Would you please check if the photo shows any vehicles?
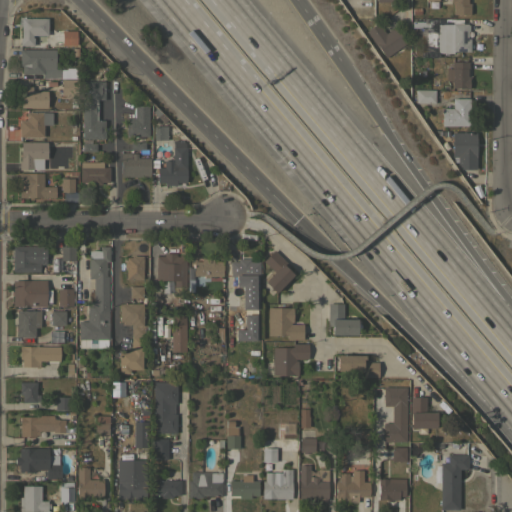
Yes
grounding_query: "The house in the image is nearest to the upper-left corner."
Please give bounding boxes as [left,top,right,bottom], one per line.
[22,18,50,46]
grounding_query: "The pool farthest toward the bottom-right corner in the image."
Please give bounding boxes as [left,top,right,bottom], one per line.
[420,454,434,479]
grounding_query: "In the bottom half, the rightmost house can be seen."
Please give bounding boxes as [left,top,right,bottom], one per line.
[437,454,472,512]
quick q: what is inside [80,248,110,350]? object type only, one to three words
building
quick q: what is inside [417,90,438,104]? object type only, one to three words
building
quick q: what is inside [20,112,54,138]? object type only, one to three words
house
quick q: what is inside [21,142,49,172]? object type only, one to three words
house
